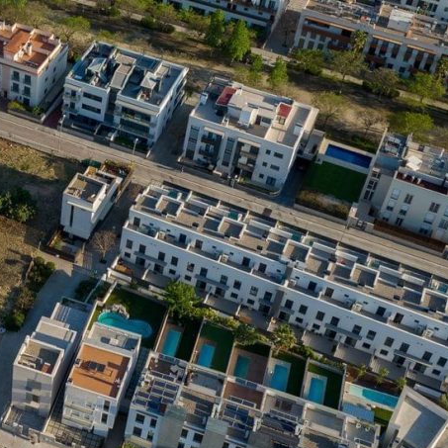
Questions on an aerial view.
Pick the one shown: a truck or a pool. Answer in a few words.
pool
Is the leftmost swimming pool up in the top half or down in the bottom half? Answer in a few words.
bottom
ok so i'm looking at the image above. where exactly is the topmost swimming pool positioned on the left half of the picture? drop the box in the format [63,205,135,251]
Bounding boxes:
[96,311,156,339]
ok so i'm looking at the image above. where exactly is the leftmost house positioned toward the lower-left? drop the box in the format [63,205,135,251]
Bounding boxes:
[12,317,89,416]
